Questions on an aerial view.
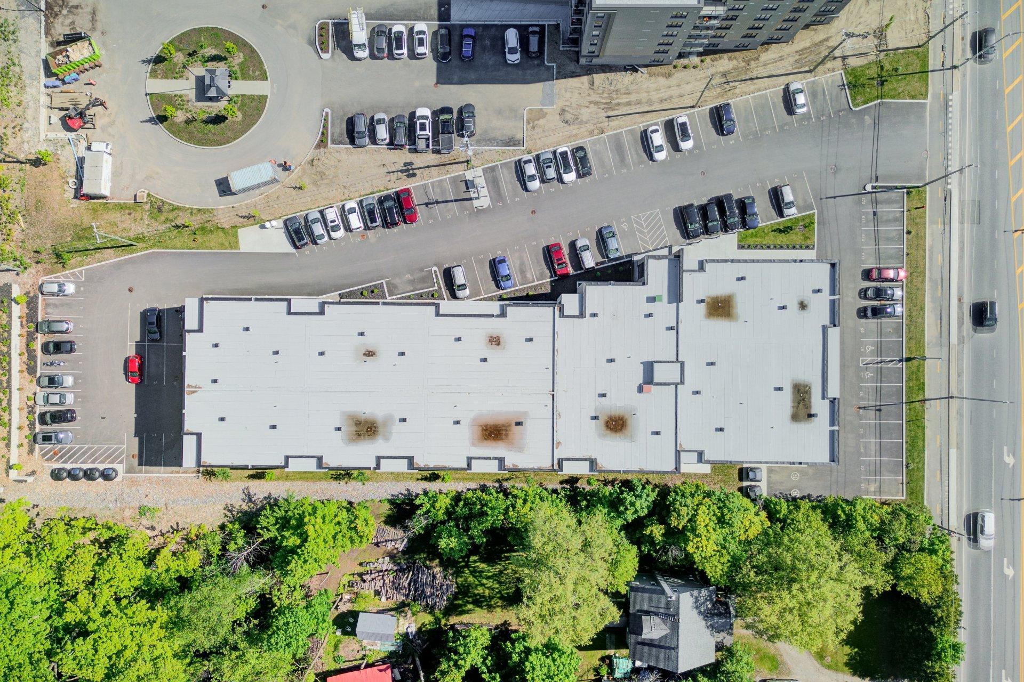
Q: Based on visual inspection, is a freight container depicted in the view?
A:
Yes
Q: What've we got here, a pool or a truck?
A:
truck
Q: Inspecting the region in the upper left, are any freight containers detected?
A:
Yes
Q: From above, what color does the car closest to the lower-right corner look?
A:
white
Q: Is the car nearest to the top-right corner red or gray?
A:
gray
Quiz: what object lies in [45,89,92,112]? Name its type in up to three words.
trailer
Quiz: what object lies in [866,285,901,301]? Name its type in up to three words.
car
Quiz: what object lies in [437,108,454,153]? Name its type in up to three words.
vehicle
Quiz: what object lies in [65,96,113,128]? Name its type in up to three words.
work vehicle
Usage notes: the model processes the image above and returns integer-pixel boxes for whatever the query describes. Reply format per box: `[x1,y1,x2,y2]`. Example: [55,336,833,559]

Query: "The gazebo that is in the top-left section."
[209,71,238,103]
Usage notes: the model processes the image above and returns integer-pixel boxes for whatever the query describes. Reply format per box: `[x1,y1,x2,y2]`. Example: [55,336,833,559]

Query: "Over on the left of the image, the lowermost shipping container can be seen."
[228,163,283,197]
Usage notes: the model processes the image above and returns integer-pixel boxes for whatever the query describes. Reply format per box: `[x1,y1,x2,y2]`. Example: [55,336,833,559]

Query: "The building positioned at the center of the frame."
[183,245,840,475]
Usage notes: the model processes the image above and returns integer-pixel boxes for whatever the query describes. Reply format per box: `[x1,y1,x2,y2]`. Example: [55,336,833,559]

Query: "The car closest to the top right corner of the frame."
[977,26,999,64]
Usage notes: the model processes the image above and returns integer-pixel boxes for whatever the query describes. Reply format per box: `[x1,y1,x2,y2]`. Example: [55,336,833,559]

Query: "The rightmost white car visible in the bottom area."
[978,511,999,549]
